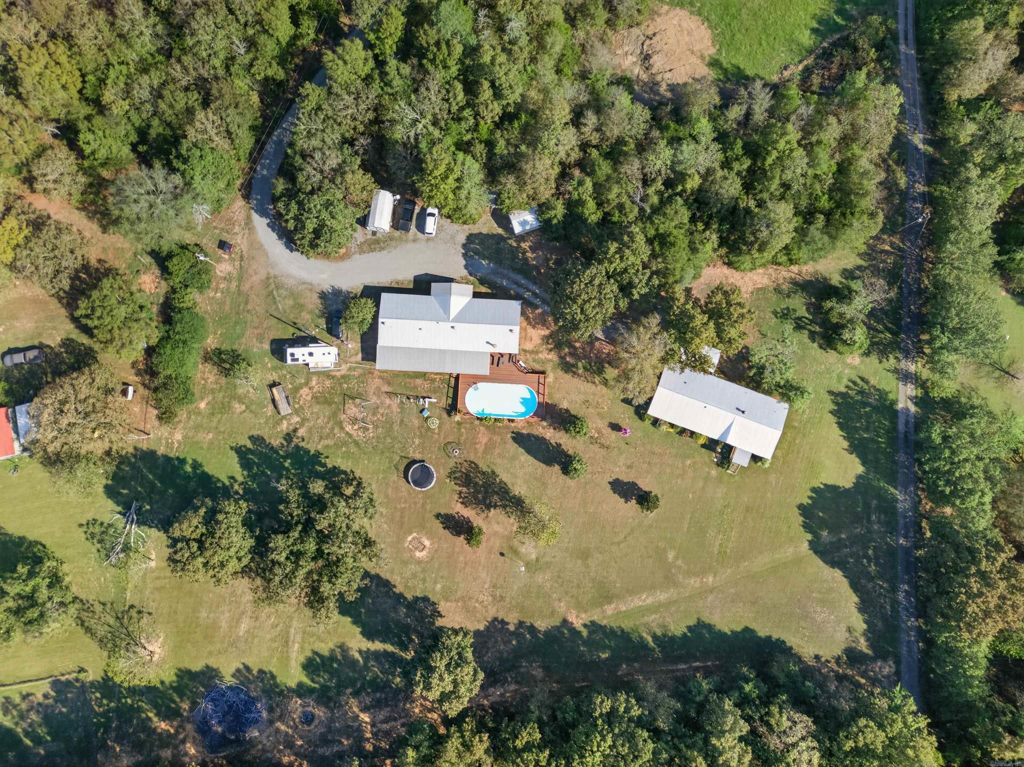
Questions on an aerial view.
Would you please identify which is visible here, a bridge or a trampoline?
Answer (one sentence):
It is a trampoline that can be seen here.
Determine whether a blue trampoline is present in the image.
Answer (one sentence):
No, the picture doesn't show any blue trampoline.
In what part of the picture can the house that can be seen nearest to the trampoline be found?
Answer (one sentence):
The house that can be seen nearest to the trampoline is located in the center region of the scene.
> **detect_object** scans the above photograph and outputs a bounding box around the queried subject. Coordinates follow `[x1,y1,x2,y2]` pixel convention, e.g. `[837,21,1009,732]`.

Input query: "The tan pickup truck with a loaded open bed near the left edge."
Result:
[4,348,46,366]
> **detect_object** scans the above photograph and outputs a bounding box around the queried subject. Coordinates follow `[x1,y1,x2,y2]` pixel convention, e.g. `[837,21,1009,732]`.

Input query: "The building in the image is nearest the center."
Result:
[376,283,521,375]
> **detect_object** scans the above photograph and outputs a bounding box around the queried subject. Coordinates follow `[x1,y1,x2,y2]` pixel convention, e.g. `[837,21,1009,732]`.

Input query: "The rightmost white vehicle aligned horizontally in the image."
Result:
[287,345,347,369]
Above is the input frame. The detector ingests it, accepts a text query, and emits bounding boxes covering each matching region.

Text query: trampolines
[407,461,436,491]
